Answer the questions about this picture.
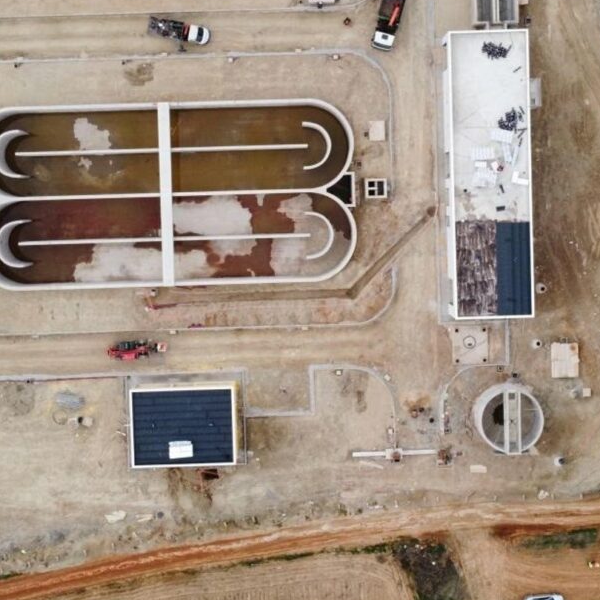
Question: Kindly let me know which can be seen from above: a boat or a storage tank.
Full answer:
Of the two, only a storage tank appears.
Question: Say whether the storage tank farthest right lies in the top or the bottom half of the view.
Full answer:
Seen from above, the storage tank farthest right lies in the bottom half of the view.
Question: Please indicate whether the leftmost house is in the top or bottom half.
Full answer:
The bottom half of the photo is where the leftmost house is.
